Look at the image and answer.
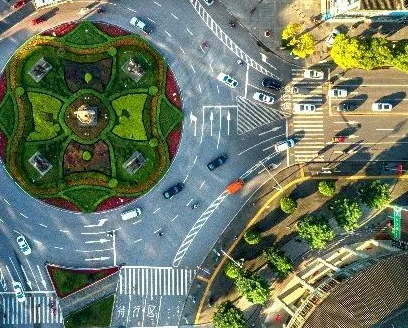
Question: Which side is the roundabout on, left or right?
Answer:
left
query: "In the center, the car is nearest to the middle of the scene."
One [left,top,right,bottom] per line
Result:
[206,152,229,172]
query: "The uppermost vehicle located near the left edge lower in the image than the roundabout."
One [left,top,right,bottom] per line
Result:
[15,232,32,256]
